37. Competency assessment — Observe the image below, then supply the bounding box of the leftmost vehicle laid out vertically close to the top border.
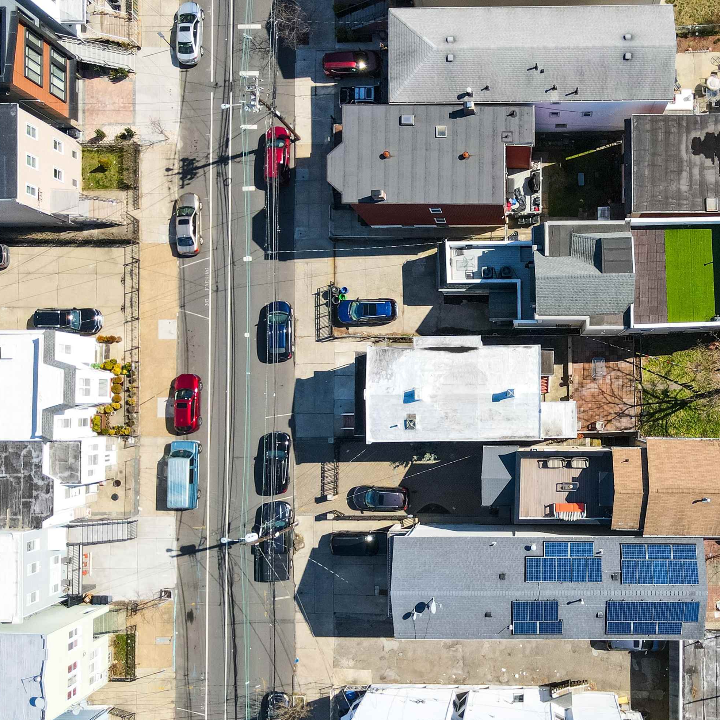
[173,0,206,67]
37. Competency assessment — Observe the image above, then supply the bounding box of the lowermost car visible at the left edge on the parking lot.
[34,302,106,334]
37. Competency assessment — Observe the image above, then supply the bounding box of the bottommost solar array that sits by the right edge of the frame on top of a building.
[607,601,699,635]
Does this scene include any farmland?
No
